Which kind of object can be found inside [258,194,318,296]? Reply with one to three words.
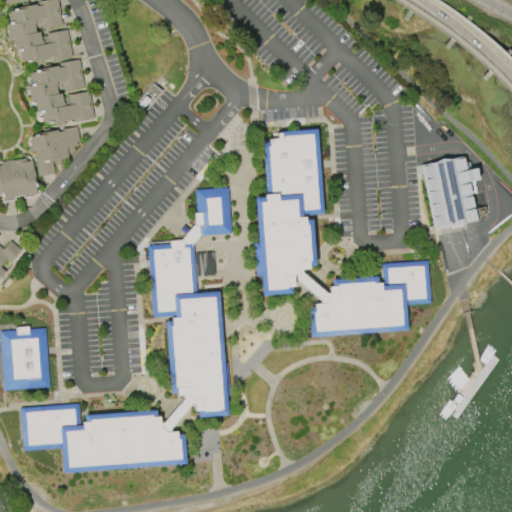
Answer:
building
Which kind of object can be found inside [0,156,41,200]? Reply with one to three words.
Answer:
house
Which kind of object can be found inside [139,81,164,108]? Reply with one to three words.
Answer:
shed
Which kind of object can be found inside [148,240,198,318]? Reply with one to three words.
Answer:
building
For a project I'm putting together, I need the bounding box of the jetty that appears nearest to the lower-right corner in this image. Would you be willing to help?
[450,354,500,419]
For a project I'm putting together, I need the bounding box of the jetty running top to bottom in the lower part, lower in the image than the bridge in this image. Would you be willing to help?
[460,292,482,368]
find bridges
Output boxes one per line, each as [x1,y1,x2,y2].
[395,0,512,92]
